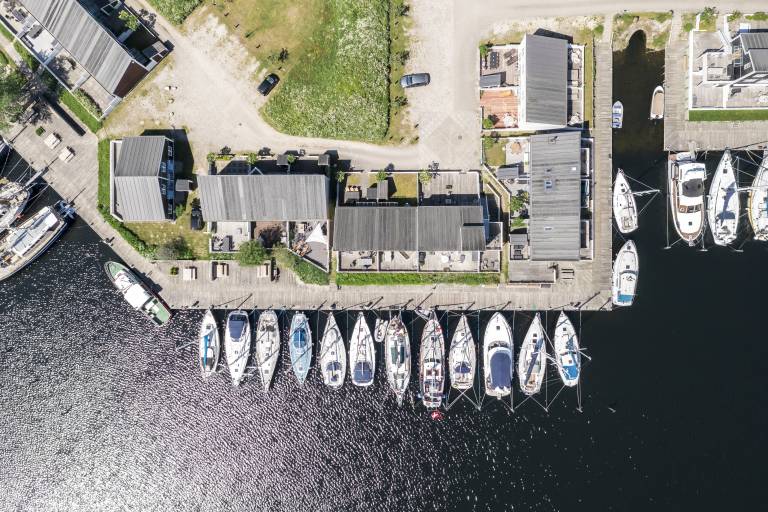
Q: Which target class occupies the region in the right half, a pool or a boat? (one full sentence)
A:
The feature located in the right half is a boat.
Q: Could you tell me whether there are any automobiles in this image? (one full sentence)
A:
Yes, there's an automobile here.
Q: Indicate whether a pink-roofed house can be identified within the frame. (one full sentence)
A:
No, the photo shows no pink-roofed house.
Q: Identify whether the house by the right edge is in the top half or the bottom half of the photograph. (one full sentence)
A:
Seen from above, the house by the right edge lies in the top half of the view.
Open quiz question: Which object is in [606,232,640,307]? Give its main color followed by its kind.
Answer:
white boat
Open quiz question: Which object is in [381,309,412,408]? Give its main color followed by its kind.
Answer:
white boat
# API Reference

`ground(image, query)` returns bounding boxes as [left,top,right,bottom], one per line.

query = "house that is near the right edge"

[731,31,768,84]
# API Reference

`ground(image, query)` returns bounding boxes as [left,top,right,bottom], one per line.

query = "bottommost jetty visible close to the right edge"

[661,121,768,152]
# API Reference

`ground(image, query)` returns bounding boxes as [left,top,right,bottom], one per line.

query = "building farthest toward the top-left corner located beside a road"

[16,0,148,98]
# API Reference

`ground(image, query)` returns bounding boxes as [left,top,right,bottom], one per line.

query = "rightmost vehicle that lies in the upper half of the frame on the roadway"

[400,71,430,87]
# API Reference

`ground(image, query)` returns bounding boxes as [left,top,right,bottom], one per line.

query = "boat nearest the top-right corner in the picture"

[648,88,664,122]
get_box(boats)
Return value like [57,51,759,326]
[668,145,706,249]
[348,309,380,403]
[742,151,768,244]
[0,164,52,233]
[611,166,660,235]
[606,232,640,307]
[286,309,316,401]
[447,309,479,408]
[374,310,387,343]
[703,150,768,249]
[209,310,254,400]
[381,309,412,408]
[548,309,599,409]
[514,309,565,409]
[244,310,284,400]
[648,88,664,122]
[178,309,225,397]
[480,309,513,408]
[0,140,14,160]
[0,192,77,277]
[95,233,174,327]
[318,309,347,402]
